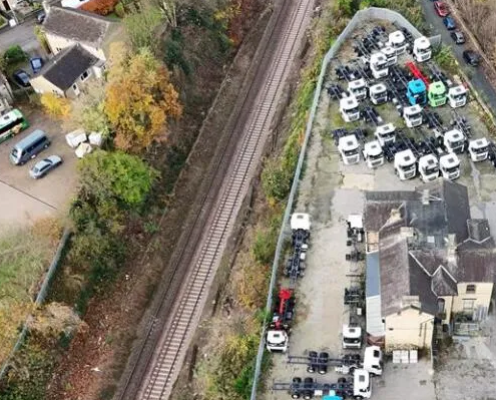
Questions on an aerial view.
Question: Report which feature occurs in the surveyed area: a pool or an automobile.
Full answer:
The one in the frame is an automobile.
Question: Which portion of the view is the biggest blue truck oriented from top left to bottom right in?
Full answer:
Look in the top right portion of the view to spot the biggest blue truck oriented from top left to bottom right.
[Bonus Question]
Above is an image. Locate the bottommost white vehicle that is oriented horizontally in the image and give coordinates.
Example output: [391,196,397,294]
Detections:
[269,369,371,398]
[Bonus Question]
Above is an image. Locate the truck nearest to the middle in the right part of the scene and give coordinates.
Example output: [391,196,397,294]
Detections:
[286,216,311,290]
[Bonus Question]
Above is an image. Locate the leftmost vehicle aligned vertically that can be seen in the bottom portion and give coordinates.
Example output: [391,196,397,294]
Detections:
[265,289,293,355]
